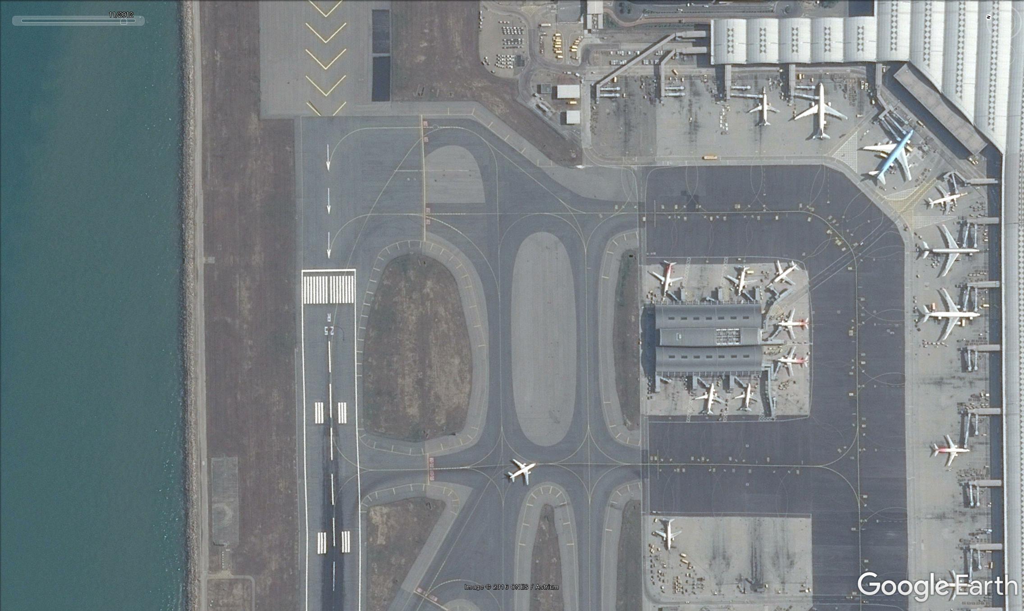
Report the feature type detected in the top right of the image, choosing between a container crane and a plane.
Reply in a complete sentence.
Looking in the top right of the image, you will find a plane.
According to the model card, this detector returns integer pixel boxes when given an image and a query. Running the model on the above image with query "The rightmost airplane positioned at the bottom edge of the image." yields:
[939,570,972,600]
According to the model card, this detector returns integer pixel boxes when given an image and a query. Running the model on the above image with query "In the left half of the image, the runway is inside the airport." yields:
[294,116,428,611]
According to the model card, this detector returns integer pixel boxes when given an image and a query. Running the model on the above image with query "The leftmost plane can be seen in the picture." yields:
[507,460,536,486]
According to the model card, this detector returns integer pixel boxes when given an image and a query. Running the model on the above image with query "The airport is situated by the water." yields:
[260,0,1006,611]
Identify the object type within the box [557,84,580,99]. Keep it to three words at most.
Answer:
shed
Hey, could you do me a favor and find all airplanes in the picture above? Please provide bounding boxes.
[924,289,980,340]
[727,265,758,296]
[767,261,799,288]
[695,384,726,414]
[507,460,536,486]
[777,308,809,339]
[939,570,972,600]
[929,185,967,214]
[750,87,780,125]
[935,435,970,465]
[868,130,915,185]
[795,83,848,139]
[657,519,683,551]
[653,261,683,300]
[777,346,809,376]
[923,225,980,276]
[736,384,760,411]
